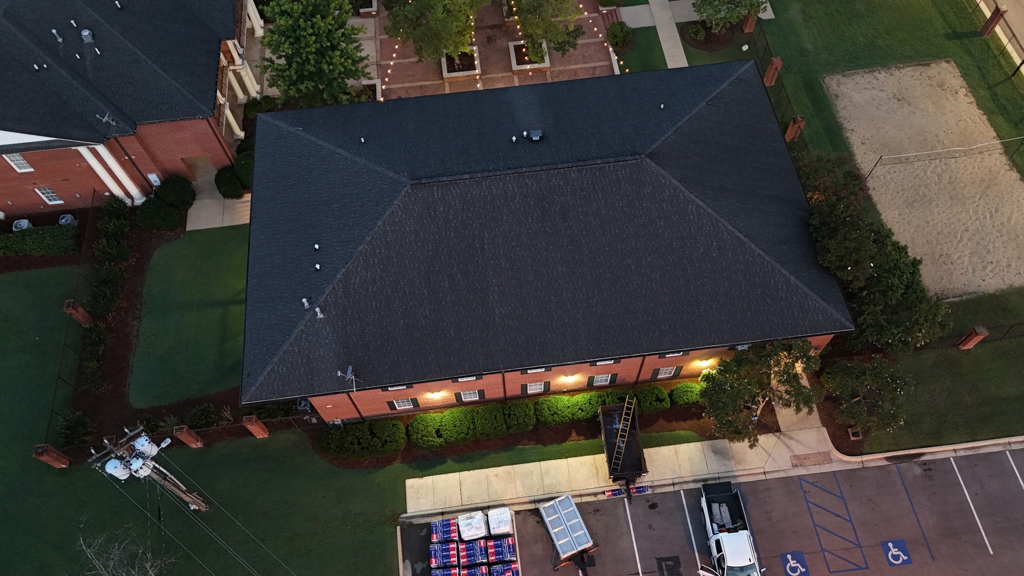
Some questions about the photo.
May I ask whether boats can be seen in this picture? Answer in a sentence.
No, there's no boat here.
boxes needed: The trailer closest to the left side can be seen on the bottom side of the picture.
[539,493,603,576]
